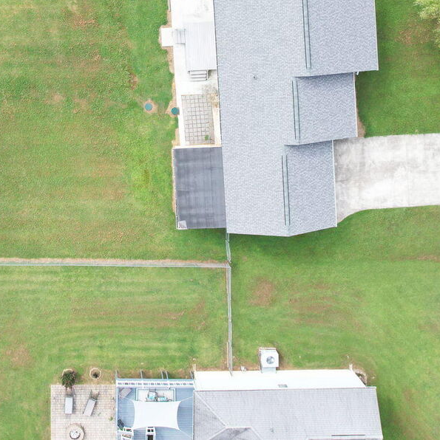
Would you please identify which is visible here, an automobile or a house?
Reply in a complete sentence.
Of the two, only a house appears.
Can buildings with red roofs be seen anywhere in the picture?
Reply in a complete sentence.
No, there isn't any building with a red roof down there.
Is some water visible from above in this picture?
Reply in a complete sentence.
No, there is no water in the image.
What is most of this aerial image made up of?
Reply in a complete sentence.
Most of the picture is covered by grass.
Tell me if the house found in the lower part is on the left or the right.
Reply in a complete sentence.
It is on the right.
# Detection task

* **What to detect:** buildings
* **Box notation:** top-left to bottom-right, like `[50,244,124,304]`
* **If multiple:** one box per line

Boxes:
[193,361,382,440]
[171,0,380,236]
